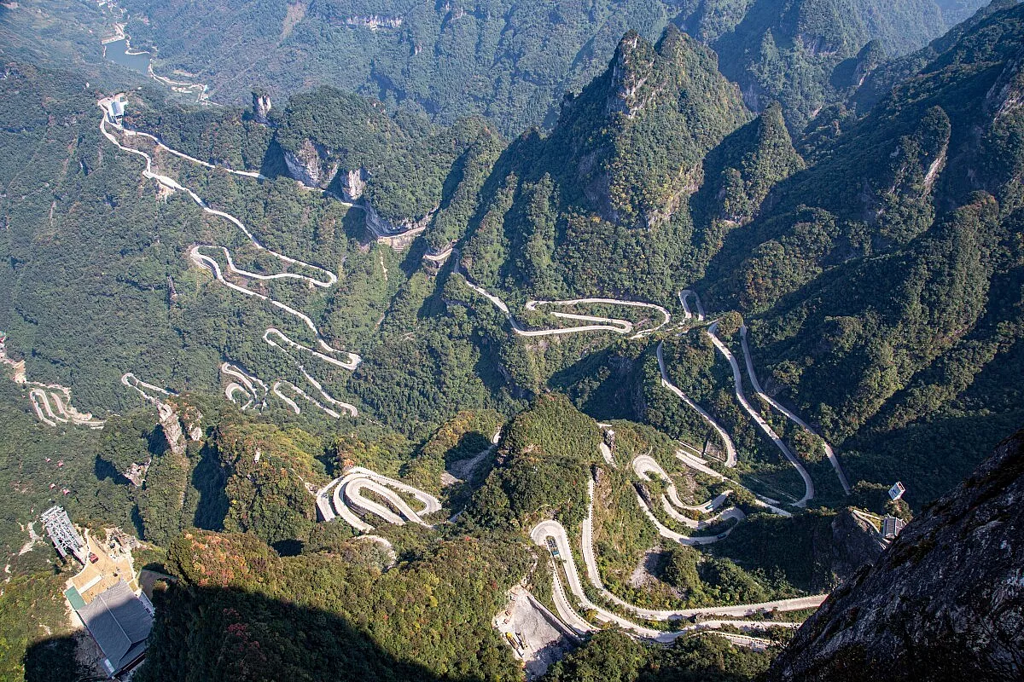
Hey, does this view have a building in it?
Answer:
Yes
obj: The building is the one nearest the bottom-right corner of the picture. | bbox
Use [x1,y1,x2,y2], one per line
[872,515,905,551]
